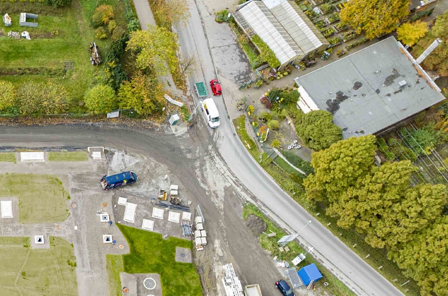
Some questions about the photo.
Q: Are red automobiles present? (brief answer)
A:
Yes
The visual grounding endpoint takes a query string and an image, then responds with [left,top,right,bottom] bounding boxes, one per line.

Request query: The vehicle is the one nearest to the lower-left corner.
[96,170,137,195]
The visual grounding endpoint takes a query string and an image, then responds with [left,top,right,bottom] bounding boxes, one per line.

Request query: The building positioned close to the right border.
[289,34,448,152]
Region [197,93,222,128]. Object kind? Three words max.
vehicle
